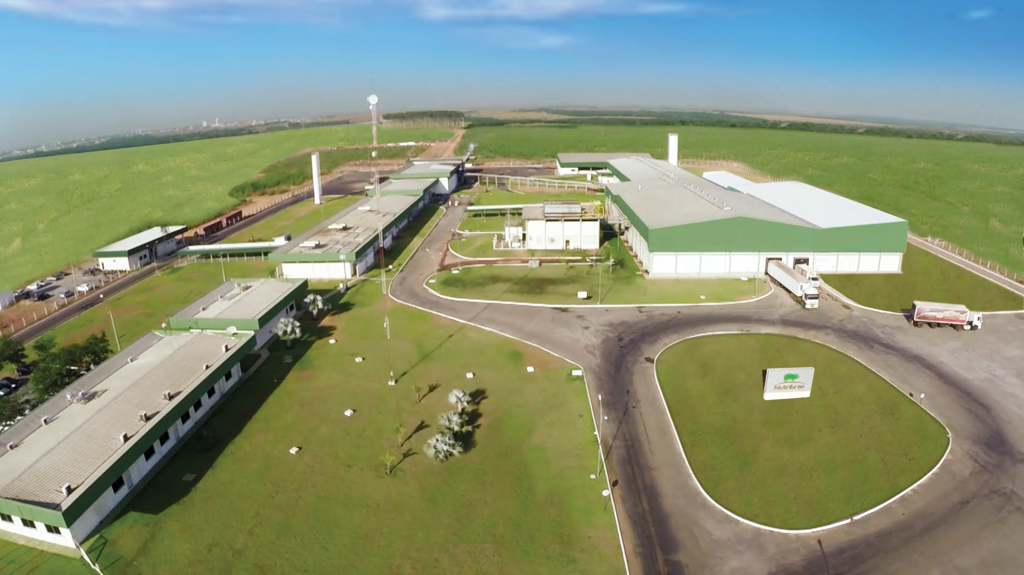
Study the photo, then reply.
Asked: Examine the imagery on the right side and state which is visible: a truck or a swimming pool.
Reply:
truck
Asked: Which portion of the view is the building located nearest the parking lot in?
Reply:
left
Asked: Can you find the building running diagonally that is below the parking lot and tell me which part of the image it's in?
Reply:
bottom left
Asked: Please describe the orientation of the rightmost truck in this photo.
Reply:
from left to right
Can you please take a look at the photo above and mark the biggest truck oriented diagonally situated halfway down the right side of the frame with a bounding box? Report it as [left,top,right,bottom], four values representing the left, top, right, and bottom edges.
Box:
[769,257,825,305]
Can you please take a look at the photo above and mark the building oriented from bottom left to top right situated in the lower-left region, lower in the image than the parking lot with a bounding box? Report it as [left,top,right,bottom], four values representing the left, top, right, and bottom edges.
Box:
[0,329,259,548]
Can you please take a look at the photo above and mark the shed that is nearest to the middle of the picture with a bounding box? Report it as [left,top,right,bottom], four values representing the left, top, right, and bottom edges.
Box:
[491,210,526,250]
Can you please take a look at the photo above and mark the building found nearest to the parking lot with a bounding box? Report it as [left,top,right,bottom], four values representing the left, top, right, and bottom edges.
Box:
[93,225,191,269]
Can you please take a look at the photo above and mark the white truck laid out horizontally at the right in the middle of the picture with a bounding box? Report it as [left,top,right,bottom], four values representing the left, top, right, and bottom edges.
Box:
[912,299,985,331]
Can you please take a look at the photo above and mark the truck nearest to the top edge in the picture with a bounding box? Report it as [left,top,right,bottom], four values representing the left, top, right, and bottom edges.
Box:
[185,209,243,239]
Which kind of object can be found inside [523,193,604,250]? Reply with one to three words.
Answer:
building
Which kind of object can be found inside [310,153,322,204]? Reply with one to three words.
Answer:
water tower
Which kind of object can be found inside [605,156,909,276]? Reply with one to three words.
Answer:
building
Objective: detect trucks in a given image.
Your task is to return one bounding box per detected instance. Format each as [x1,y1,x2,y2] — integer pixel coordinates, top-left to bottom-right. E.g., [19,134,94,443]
[912,299,985,331]
[769,257,825,305]
[796,261,830,289]
[185,209,243,239]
